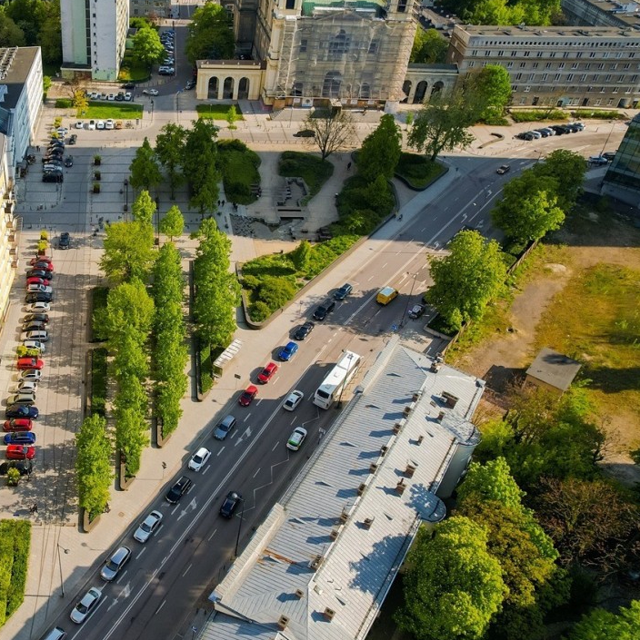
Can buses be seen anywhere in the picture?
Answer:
Yes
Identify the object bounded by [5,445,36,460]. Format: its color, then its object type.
red car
